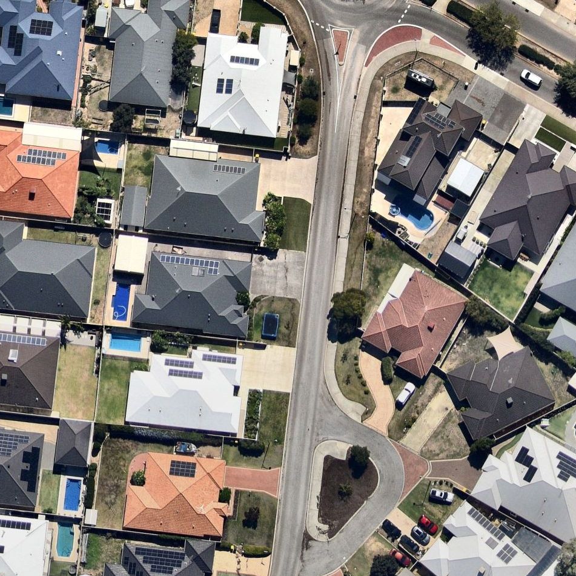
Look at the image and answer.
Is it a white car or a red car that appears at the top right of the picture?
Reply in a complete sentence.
You can see a white car at the top right of the picture.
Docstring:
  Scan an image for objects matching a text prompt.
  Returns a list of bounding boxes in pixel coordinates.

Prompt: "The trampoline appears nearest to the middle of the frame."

[261,312,277,337]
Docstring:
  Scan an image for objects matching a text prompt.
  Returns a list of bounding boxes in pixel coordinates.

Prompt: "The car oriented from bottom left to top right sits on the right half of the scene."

[395,384,415,407]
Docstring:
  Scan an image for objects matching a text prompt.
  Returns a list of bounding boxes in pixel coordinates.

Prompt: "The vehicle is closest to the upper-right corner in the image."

[519,70,543,87]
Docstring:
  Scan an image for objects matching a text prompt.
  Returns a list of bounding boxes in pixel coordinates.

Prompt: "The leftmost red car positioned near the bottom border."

[391,548,410,567]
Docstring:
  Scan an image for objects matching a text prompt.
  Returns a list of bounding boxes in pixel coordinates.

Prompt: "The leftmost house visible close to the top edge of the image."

[0,0,83,100]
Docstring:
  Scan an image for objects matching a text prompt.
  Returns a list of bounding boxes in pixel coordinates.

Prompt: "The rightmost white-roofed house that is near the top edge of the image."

[197,26,287,137]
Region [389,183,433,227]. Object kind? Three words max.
swimming pool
